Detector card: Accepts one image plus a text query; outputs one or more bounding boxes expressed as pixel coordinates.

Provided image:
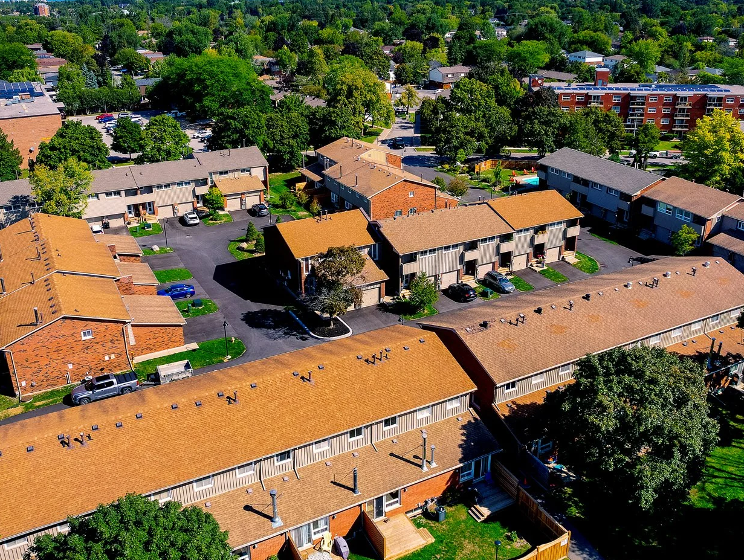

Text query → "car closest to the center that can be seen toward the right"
[441,285,476,306]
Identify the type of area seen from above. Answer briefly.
residential area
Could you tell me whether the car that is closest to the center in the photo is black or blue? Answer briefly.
black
